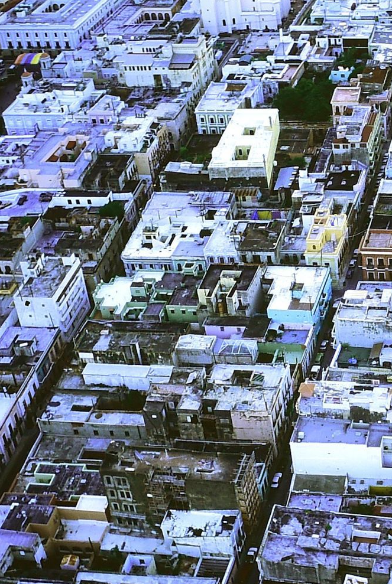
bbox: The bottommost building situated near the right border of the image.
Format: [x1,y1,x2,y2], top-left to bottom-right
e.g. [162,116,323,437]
[257,504,392,584]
